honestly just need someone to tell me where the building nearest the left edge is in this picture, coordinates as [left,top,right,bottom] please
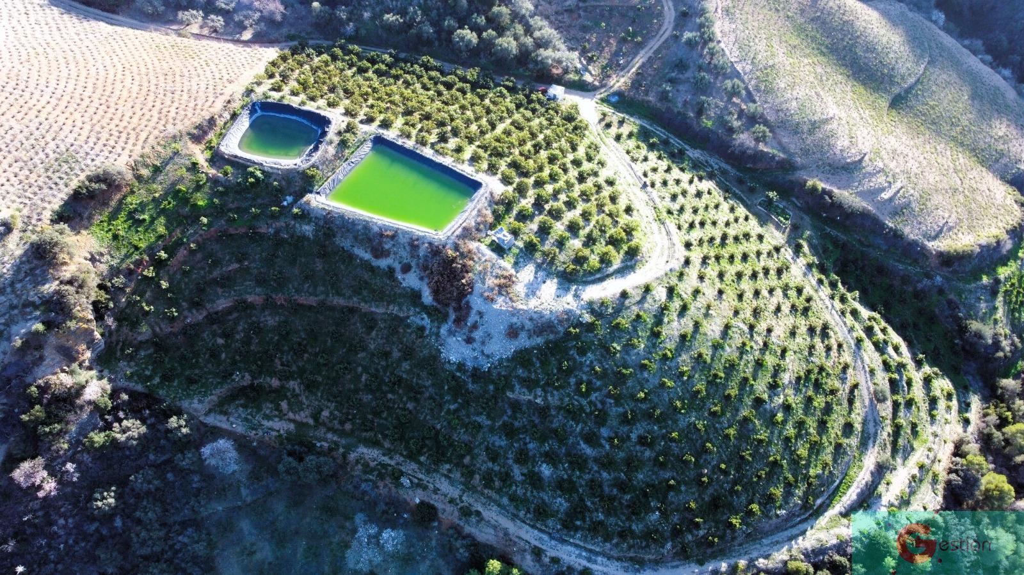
[492,228,514,251]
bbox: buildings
[492,228,514,251]
[547,84,566,102]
